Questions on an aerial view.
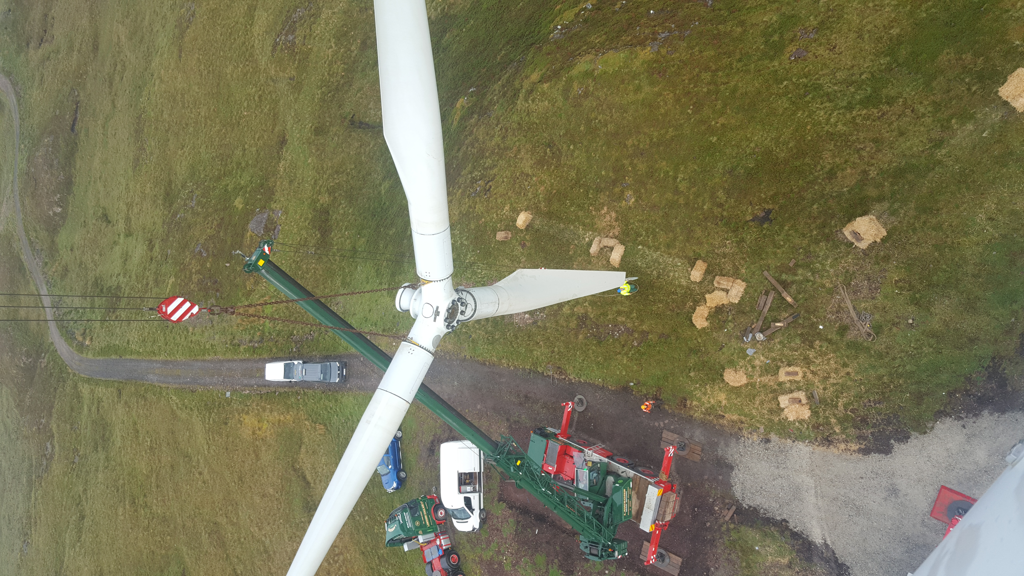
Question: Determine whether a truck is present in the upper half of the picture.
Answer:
No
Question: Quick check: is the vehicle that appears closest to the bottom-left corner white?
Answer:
Yes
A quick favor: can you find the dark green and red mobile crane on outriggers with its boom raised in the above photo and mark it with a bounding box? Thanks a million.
[218,242,685,565]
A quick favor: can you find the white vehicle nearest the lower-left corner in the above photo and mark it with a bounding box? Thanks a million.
[261,358,303,383]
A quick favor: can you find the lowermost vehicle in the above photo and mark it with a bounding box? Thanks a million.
[387,493,464,576]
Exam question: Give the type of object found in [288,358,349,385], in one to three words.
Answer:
vehicle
